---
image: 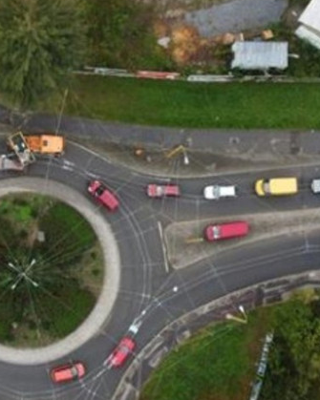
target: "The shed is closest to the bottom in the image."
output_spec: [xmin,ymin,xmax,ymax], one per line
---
[226,41,288,74]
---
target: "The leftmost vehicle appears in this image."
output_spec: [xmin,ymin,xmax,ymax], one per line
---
[0,157,26,172]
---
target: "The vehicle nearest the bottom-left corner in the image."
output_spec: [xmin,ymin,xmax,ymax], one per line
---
[50,362,86,382]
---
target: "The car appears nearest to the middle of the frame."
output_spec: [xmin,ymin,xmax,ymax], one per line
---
[148,182,180,198]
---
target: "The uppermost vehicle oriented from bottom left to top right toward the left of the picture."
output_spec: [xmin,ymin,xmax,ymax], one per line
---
[108,335,135,369]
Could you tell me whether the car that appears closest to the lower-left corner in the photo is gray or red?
red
